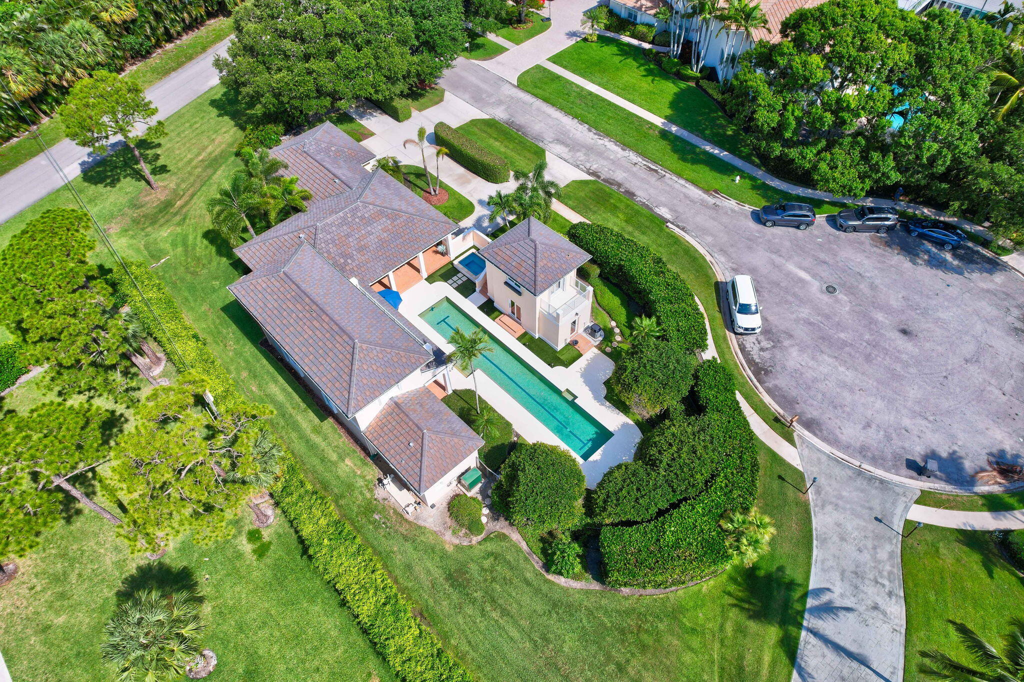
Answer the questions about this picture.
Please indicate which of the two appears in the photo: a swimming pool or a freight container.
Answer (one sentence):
Of the two, only a swimming pool appears.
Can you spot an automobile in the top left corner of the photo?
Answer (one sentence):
No, I can find no automobile in the top left corner of the photo.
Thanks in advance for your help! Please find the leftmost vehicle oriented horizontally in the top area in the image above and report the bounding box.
[758,200,818,229]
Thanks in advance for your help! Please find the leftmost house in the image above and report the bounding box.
[226,120,486,508]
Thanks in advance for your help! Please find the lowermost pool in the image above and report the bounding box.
[420,297,613,460]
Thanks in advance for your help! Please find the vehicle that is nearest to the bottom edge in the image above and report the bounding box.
[726,278,763,338]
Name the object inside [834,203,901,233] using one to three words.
car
